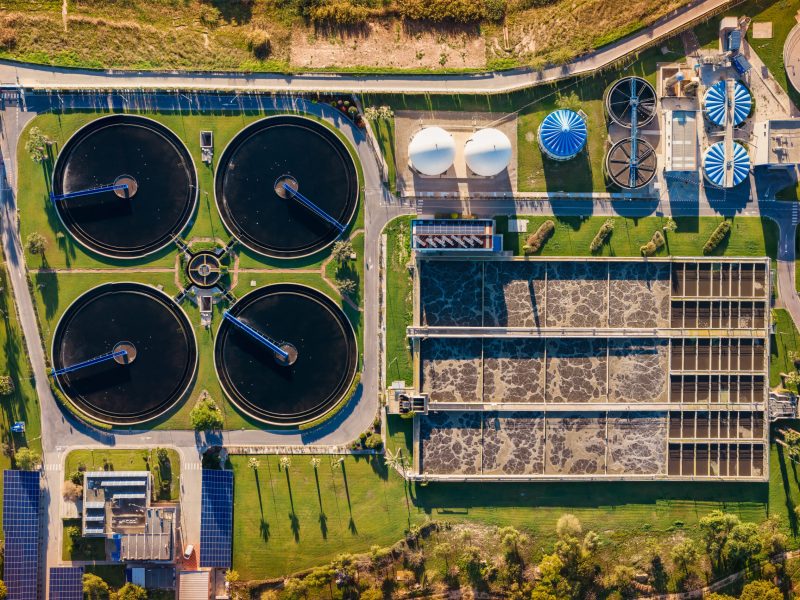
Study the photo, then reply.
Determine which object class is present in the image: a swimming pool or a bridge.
bridge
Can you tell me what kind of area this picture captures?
industrial area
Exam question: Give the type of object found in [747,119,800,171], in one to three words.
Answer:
building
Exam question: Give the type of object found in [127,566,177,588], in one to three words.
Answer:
shed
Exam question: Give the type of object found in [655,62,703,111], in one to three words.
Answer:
building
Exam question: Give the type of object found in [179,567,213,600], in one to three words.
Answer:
shed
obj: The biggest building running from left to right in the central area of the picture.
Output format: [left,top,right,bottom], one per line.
[412,220,512,256]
